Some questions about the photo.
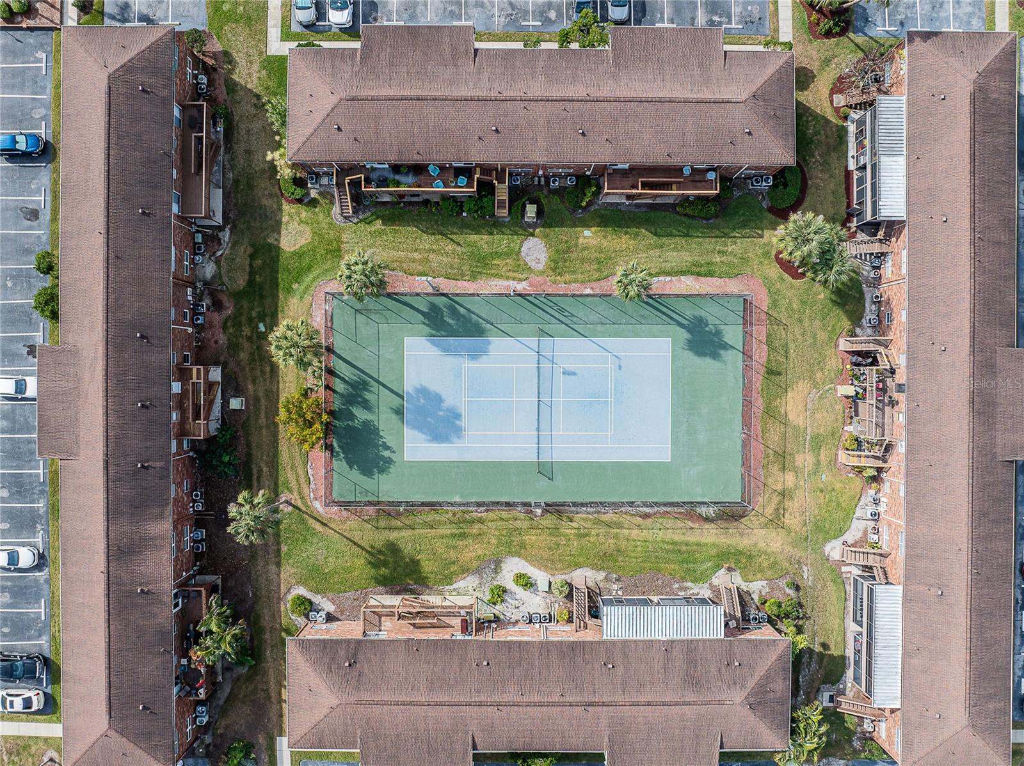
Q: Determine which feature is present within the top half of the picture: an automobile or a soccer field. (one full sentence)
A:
There is an automobile within the top half of the picture.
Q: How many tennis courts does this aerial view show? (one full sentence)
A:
The photo contains exactly 1 tennis court.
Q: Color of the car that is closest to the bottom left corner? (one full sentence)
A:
The car that is closest to the bottom left corner is white.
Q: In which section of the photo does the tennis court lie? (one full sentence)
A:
The tennis court is located in the center region of the scene.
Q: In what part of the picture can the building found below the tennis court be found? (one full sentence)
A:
The building found below the tennis court sits in the bottom section of the image.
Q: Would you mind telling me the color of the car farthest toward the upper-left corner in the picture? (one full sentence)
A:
From above, the car farthest toward the upper-left corner appears blue.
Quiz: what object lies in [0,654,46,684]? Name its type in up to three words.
car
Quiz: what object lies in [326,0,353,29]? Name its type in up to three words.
car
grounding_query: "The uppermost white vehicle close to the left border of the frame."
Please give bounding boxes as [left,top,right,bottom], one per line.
[0,375,35,400]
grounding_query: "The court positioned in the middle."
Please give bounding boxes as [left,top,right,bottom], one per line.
[332,297,744,502]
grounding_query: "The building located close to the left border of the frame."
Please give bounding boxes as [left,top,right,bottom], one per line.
[35,25,224,766]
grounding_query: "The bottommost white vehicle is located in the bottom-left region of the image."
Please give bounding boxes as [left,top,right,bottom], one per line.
[0,688,45,716]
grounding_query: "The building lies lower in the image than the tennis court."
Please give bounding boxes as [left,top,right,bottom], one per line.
[286,573,792,766]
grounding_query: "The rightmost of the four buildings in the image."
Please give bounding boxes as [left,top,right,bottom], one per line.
[823,30,1024,766]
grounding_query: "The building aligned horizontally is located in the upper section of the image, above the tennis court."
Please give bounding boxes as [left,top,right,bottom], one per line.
[287,24,796,218]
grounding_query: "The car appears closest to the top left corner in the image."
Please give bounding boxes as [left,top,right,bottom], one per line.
[0,129,47,157]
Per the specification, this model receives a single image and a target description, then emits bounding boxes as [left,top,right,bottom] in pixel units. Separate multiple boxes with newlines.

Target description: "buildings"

[823,30,1024,766]
[286,573,792,766]
[35,25,224,766]
[287,24,796,218]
